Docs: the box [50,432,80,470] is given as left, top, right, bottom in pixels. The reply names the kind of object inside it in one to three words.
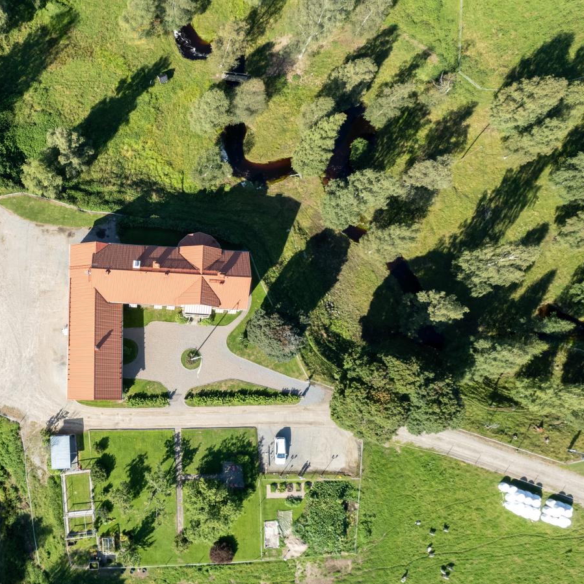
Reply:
shed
